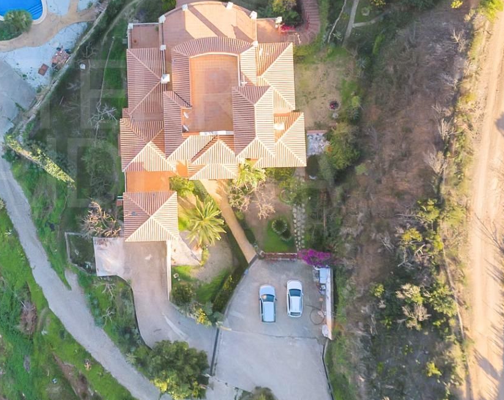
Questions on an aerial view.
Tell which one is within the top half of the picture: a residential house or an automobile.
residential house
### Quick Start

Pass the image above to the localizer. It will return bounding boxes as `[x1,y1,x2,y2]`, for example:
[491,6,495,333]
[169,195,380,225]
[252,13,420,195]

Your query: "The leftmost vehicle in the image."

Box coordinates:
[259,285,278,324]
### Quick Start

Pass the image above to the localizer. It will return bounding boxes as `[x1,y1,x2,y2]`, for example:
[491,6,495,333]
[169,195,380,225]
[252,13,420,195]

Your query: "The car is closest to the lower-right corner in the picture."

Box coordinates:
[287,281,305,320]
